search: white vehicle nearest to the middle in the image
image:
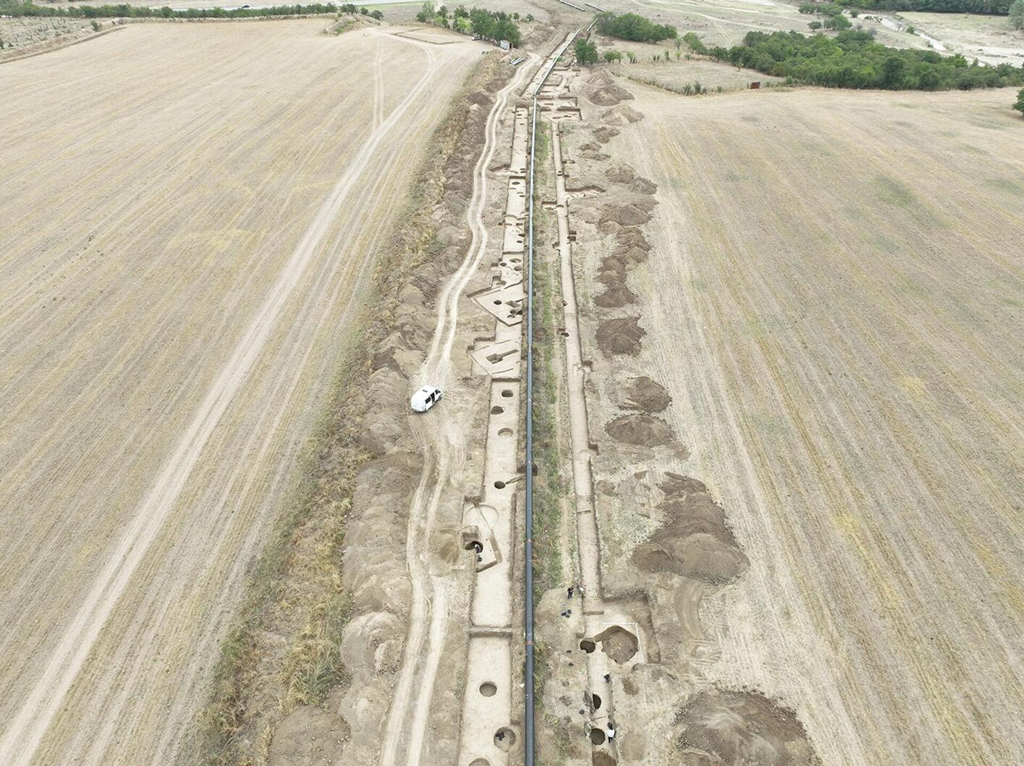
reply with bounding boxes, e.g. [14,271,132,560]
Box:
[412,385,445,411]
